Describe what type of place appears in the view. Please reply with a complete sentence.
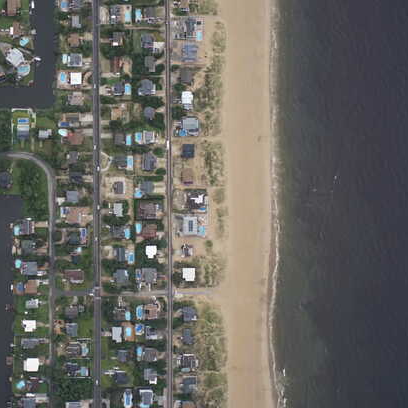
This looks like a beach.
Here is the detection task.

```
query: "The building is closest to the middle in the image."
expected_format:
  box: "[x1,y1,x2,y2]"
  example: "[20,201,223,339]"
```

[187,189,204,211]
